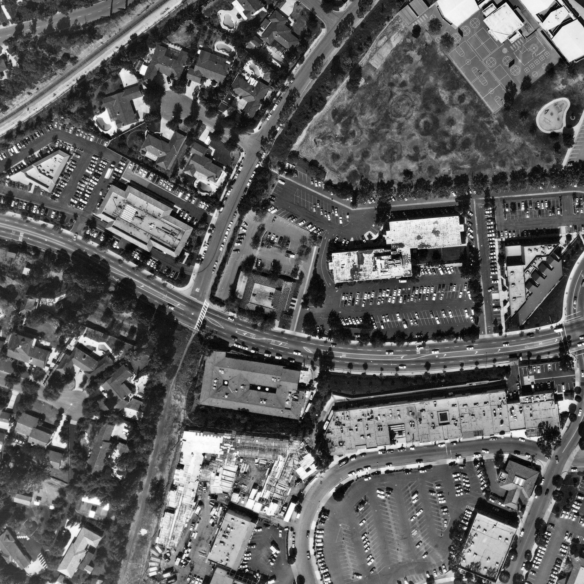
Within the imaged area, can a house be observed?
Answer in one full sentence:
Yes, there's a house here.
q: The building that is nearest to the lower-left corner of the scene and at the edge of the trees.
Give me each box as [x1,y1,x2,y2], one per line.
[0,525,36,571]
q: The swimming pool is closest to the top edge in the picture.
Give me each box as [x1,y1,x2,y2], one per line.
[221,12,235,30]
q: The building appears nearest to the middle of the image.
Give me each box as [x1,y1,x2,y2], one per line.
[235,272,297,321]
